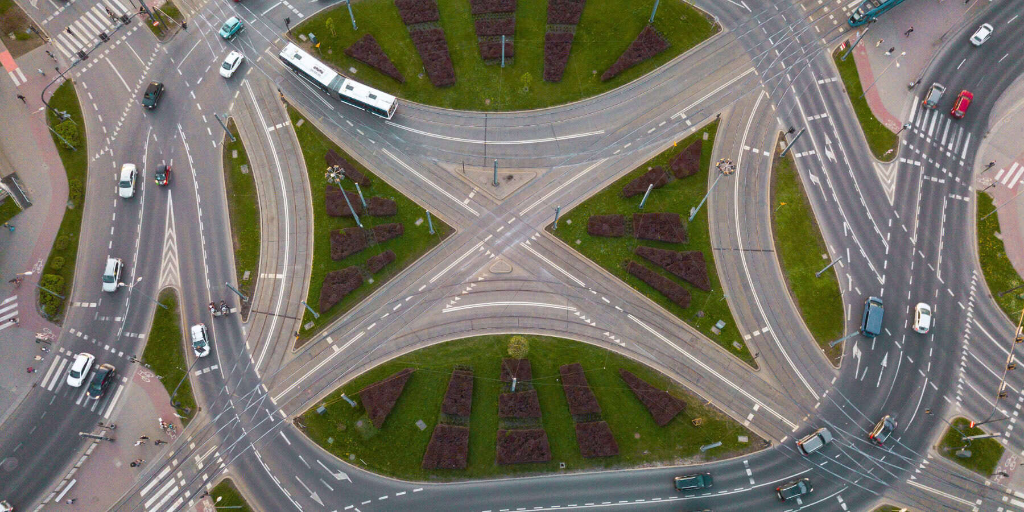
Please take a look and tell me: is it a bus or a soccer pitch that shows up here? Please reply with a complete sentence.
There is a bus in the scene.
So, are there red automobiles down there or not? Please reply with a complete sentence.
Yes, a red automobile appears in the view.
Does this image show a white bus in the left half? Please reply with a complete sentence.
Yes, a white bus can be seen in the left half.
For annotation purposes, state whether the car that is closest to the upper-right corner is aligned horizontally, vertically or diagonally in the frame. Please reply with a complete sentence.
The car that is closest to the upper-right corner is laid out diagonally.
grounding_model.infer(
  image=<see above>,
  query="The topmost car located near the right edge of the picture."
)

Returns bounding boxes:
[969,20,994,48]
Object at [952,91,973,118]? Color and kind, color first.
red car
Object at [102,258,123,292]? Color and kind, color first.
white car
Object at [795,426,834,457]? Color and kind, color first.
gray car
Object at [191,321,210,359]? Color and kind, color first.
white car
